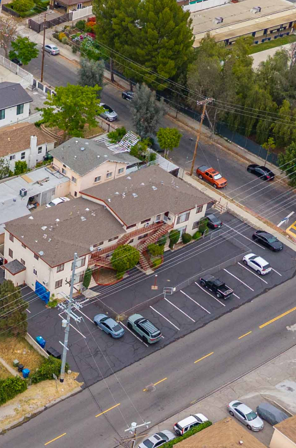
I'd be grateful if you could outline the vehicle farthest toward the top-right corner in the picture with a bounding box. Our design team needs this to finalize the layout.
[247,166,274,183]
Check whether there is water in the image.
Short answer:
No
